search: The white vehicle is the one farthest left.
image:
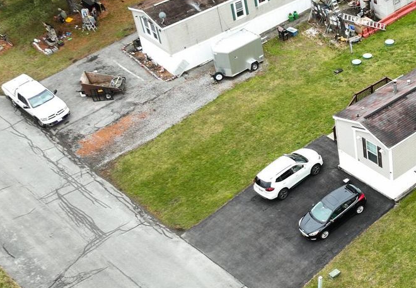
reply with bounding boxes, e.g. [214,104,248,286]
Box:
[0,76,67,126]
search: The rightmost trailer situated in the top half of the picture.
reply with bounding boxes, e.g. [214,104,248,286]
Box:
[200,27,264,78]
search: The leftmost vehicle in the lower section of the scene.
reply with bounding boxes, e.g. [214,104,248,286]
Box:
[254,150,323,201]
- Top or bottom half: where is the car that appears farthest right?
bottom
